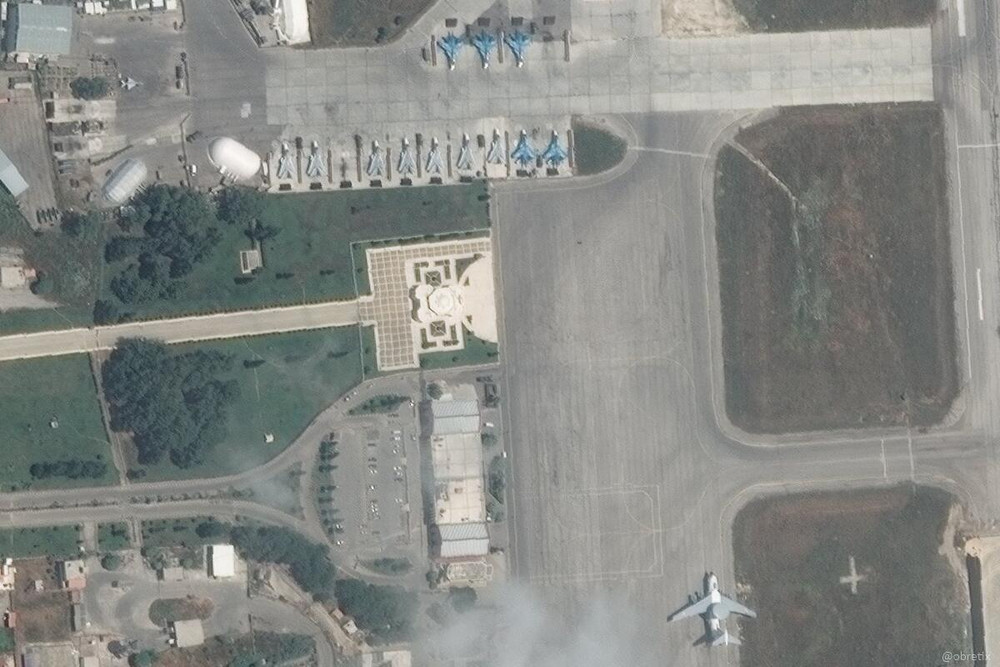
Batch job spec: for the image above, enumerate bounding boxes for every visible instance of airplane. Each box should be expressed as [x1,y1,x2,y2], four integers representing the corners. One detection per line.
[369,140,388,175]
[429,137,446,172]
[278,143,297,178]
[513,132,537,167]
[543,132,566,167]
[504,29,529,67]
[675,572,758,646]
[490,129,508,164]
[438,31,464,70]
[308,141,326,176]
[472,30,497,69]
[459,134,478,169]
[398,138,417,173]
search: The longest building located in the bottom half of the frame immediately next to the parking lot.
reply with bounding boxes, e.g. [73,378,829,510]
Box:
[425,399,490,558]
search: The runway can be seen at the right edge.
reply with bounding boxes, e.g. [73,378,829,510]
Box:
[929,0,1000,514]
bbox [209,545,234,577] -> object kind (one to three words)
house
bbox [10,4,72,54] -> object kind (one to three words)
hangar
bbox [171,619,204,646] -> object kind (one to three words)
house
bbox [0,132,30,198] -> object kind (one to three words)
building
